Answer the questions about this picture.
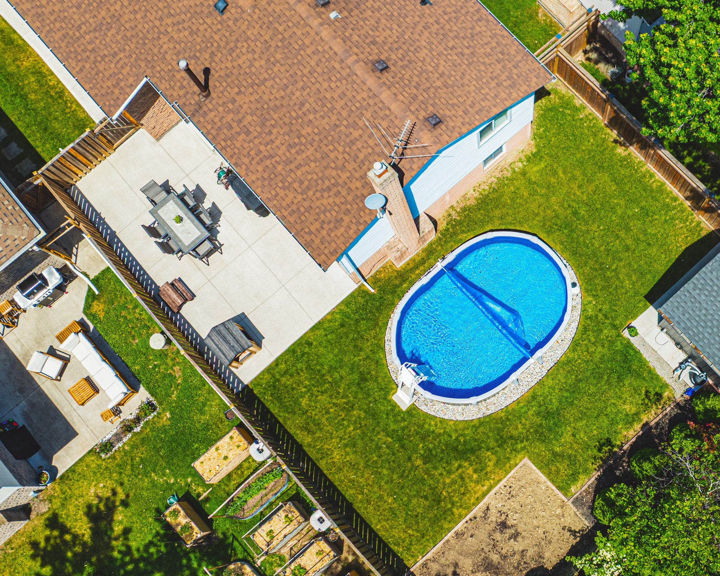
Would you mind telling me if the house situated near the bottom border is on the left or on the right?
left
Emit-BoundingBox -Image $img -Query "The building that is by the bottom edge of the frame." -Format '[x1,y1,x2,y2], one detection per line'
[0,432,47,547]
